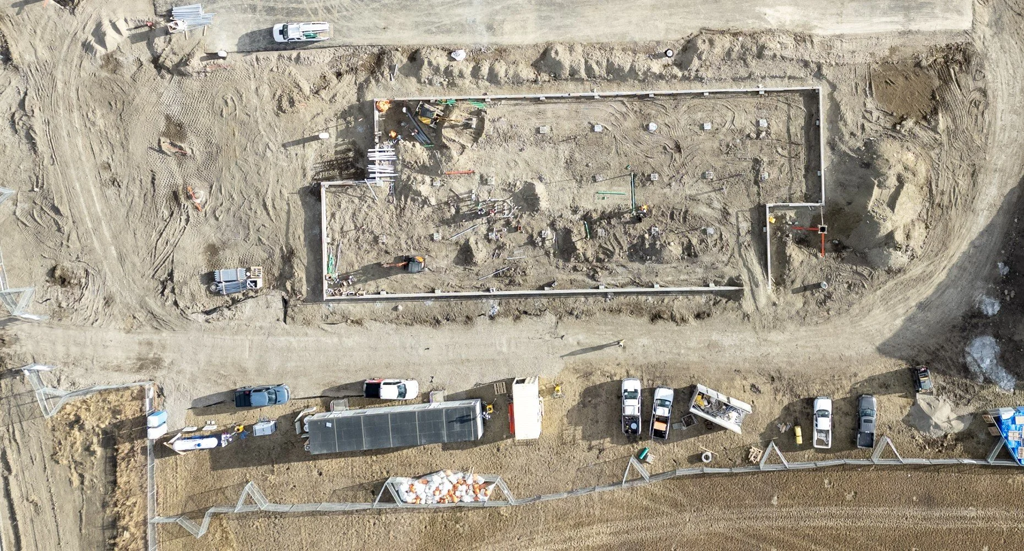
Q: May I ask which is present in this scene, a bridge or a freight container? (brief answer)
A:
freight container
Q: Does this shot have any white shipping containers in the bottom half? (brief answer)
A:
Yes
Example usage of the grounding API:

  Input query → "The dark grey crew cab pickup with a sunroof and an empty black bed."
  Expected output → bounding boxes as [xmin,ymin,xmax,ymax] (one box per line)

[852,392,879,448]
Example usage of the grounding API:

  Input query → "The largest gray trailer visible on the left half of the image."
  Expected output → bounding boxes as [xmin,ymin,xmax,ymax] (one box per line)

[308,397,481,455]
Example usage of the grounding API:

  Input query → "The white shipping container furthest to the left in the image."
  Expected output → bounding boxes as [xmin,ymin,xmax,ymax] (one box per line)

[514,378,539,439]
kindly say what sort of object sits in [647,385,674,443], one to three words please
truck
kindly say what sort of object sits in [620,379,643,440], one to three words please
truck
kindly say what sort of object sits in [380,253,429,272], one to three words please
work vehicle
